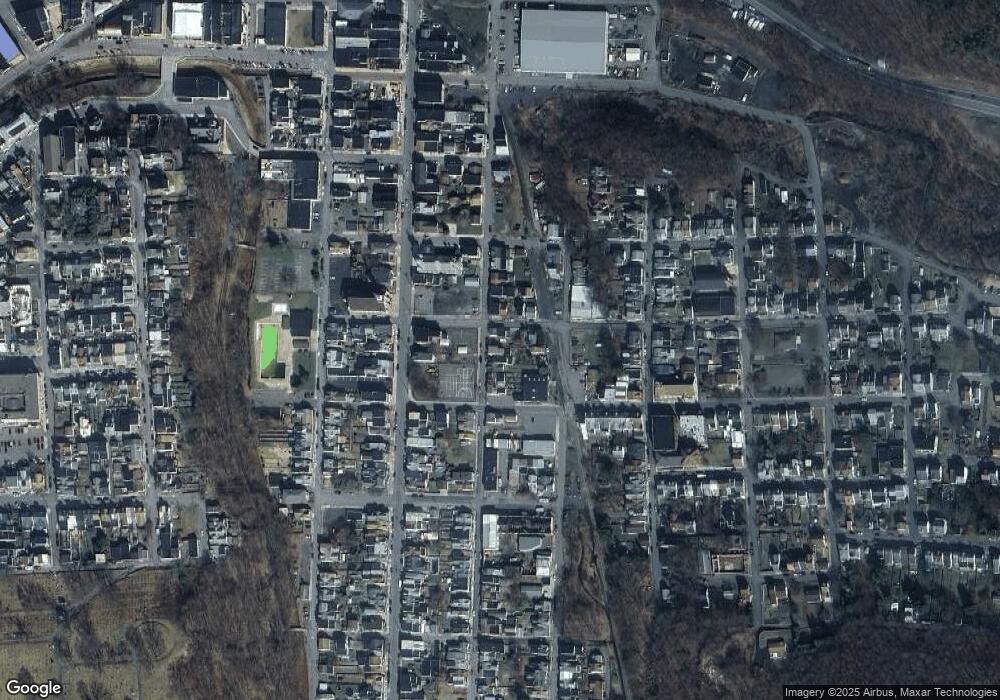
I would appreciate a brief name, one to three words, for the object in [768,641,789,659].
house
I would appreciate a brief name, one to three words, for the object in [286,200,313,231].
building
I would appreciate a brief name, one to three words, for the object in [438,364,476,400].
sports court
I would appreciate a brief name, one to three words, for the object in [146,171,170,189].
building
